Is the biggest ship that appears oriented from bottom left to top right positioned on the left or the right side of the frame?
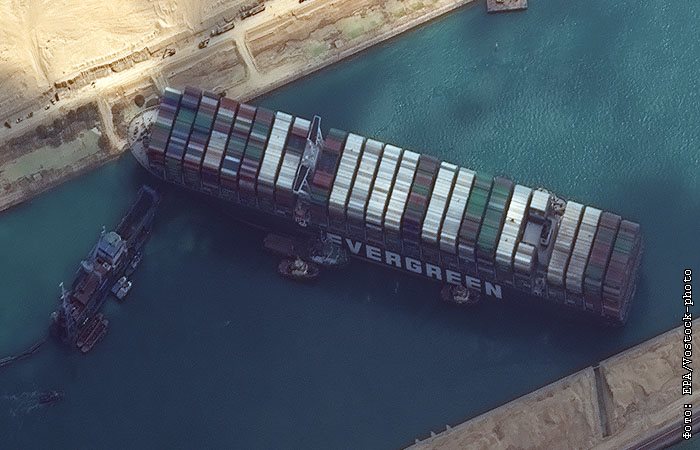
left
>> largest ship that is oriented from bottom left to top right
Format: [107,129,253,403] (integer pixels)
[44,179,164,343]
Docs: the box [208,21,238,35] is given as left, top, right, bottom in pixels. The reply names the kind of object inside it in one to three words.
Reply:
vehicle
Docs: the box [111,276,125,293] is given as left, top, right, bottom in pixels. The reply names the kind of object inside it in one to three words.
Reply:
boat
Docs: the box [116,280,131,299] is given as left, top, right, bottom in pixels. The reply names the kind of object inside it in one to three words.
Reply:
boat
